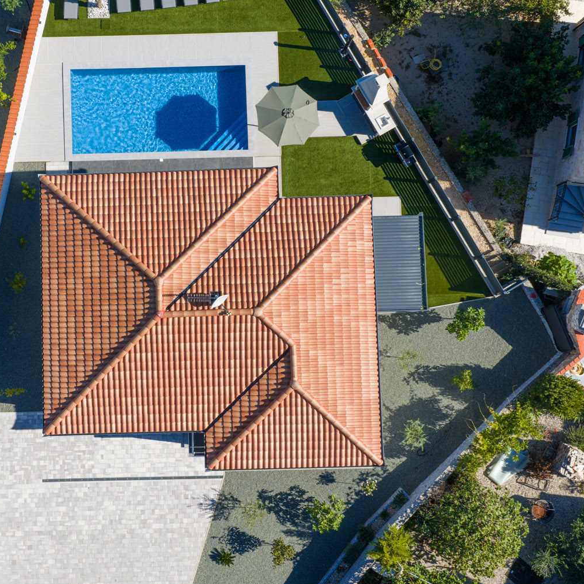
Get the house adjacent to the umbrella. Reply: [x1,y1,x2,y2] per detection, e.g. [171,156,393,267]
[38,165,386,473]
